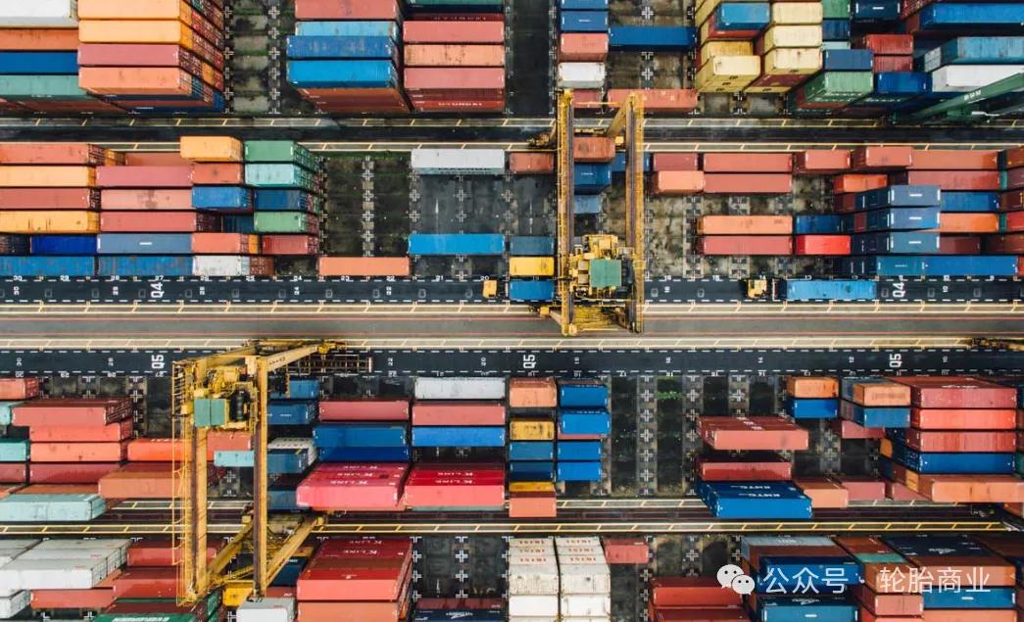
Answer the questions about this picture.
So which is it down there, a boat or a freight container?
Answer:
freight container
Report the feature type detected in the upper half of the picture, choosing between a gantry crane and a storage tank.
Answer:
gantry crane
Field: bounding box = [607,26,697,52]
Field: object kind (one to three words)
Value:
shipping container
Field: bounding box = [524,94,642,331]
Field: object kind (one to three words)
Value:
container crane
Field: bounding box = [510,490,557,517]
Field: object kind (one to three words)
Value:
shipping container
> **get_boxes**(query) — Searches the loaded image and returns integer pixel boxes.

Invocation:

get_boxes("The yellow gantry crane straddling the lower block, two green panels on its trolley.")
[179,344,343,596]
